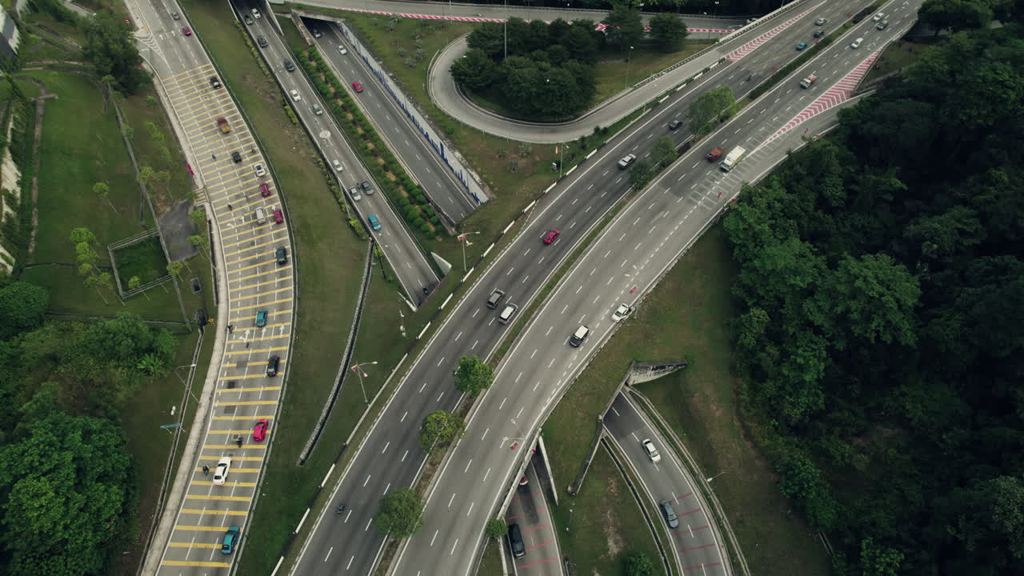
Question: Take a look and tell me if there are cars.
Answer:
Yes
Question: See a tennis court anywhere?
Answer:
No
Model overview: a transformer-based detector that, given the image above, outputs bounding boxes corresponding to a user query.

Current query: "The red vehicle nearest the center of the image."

[542,228,561,245]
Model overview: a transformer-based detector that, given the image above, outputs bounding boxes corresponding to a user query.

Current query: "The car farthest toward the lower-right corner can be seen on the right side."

[660,498,679,529]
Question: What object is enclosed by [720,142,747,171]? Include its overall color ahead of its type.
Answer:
white truck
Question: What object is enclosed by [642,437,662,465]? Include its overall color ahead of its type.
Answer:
white car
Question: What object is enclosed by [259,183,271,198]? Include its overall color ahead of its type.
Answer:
pink vehicle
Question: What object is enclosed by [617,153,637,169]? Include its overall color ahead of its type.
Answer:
gray vehicle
